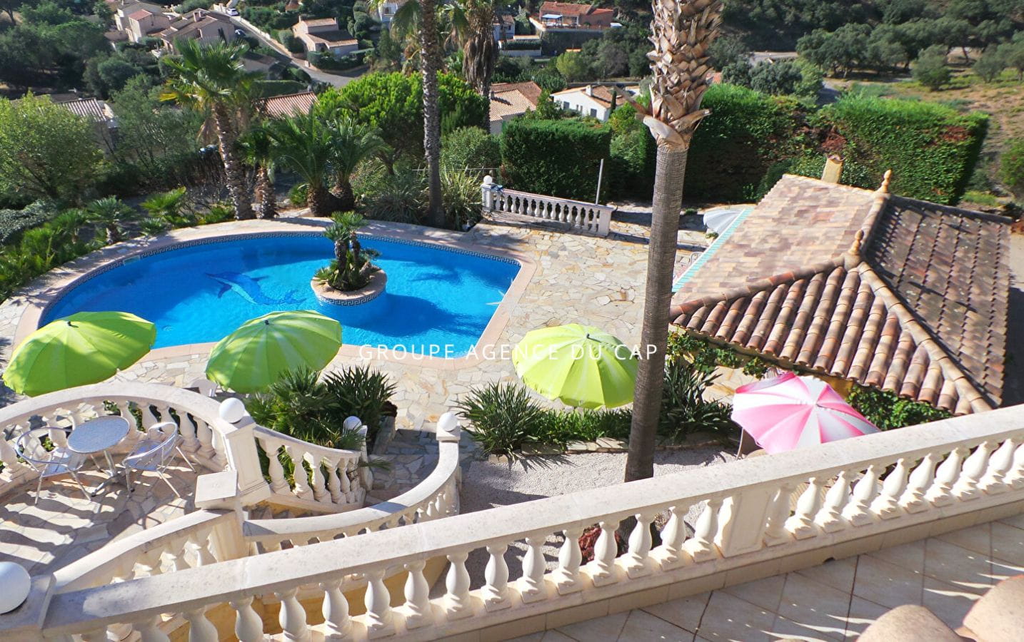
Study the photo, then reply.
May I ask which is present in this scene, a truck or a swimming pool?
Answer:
swimming pool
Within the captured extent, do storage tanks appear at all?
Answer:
No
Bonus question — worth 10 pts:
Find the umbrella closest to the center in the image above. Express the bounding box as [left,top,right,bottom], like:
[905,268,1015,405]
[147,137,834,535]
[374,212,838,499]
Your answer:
[521,313,641,439]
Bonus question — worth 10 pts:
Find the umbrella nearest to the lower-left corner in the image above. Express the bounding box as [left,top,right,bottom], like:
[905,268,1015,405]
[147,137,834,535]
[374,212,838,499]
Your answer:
[2,305,161,415]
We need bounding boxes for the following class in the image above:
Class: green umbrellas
[2,305,161,415]
[521,313,641,439]
[199,308,345,400]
